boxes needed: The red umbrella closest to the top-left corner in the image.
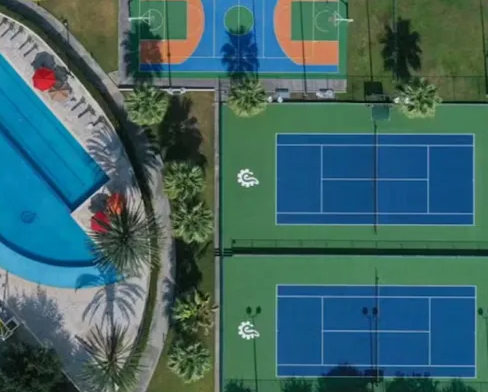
[32,67,56,91]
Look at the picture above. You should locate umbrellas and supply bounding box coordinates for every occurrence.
[91,212,110,231]
[107,194,125,212]
[32,67,56,91]
[49,84,68,103]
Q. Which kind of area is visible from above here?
sports ground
